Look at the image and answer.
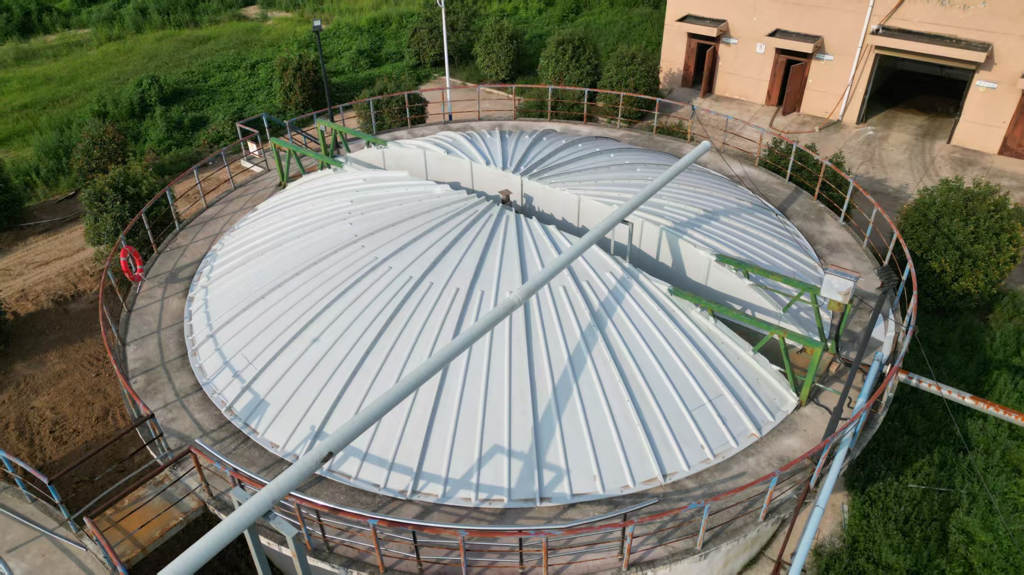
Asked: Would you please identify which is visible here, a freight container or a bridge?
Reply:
bridge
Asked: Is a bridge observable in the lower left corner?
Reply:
Yes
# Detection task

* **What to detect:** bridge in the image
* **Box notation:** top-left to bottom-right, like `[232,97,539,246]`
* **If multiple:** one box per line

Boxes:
[75,467,208,571]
